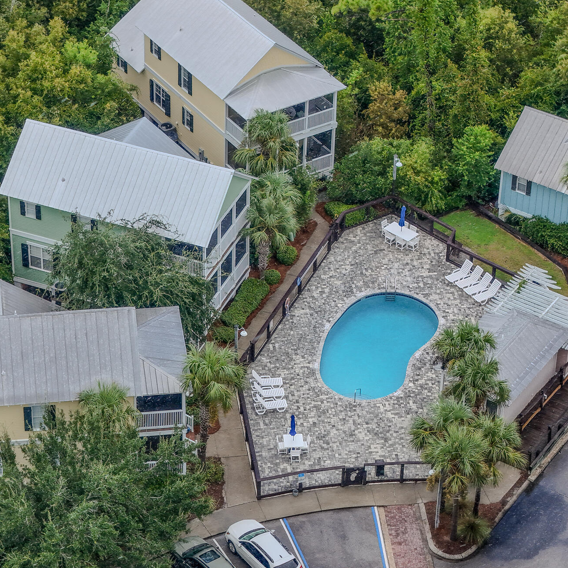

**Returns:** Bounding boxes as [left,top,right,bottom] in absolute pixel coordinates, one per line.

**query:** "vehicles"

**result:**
[222,517,307,568]
[168,535,237,568]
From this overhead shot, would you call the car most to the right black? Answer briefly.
No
